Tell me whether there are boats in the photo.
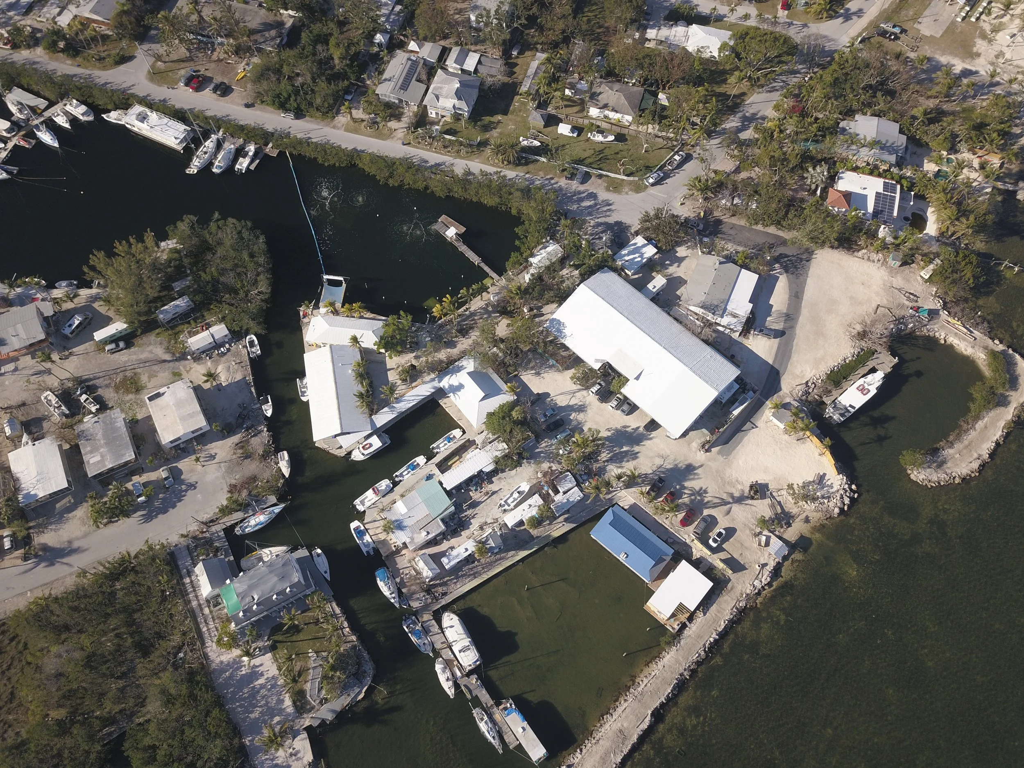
Yes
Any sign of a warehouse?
Yes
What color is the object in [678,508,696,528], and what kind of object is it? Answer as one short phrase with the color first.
red car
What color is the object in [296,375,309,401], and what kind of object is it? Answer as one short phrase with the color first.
white boat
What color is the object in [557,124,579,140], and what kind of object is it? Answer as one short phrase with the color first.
white vehicle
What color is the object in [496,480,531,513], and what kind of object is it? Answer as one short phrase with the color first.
white boat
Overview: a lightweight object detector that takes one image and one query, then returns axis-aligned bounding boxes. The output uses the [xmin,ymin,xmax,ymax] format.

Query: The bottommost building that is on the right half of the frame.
[644,560,713,632]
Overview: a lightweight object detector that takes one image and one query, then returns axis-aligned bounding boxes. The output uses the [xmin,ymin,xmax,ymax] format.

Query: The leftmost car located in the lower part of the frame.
[1,531,17,553]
